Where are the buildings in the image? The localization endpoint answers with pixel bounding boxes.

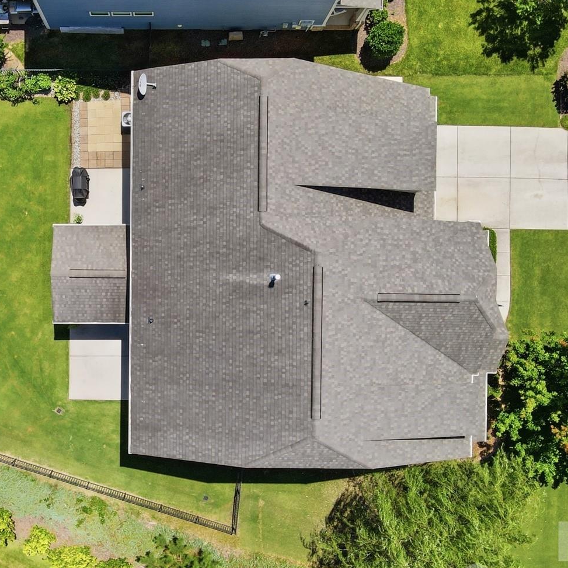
[25,0,384,38]
[51,56,510,470]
